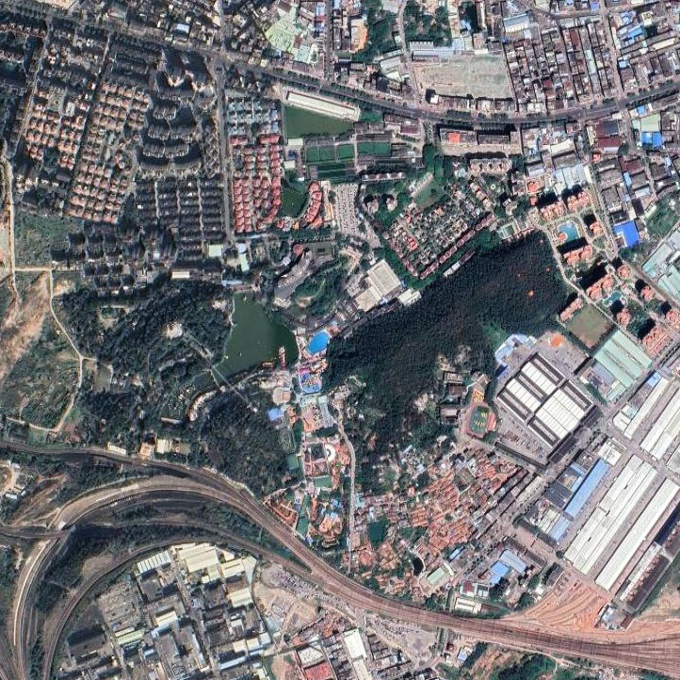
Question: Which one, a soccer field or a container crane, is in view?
soccer field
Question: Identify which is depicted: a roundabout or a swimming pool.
swimming pool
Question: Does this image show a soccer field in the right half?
Yes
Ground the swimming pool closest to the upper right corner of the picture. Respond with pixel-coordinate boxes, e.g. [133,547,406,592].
[559,221,579,242]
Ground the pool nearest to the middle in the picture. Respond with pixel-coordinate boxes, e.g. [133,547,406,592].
[308,332,329,354]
